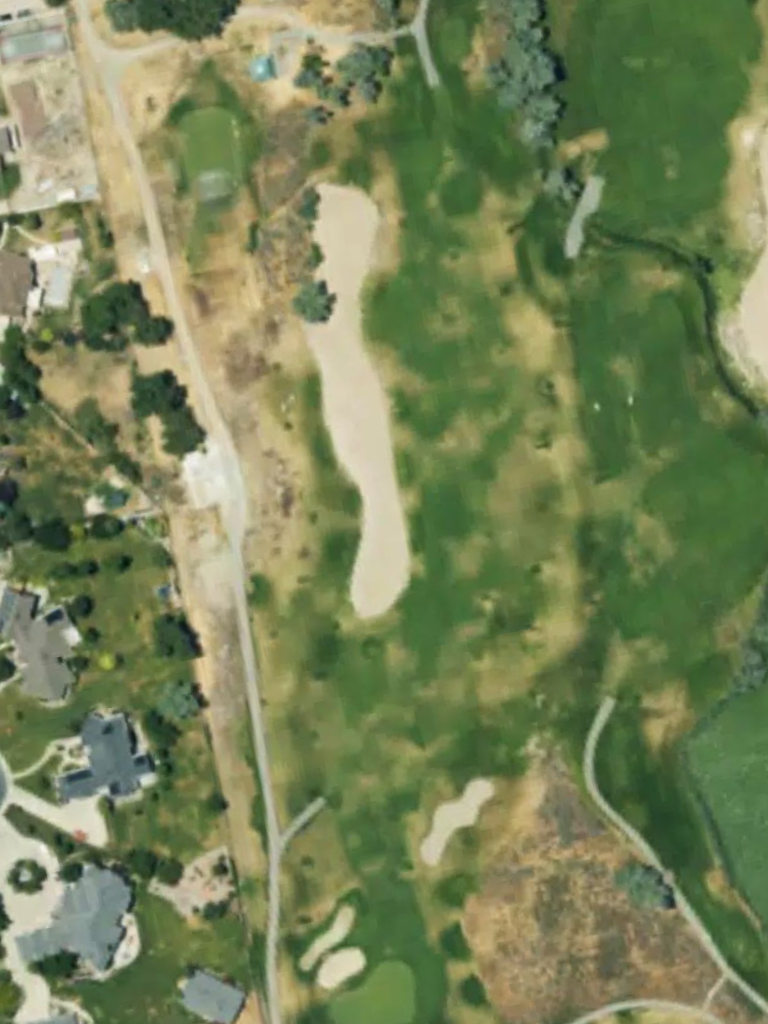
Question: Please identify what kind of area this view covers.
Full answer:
The picture captures a golf course.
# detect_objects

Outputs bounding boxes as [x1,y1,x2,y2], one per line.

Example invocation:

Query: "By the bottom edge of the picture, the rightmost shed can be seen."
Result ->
[181,972,245,1024]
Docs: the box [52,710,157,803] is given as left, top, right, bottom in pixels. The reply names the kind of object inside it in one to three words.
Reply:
house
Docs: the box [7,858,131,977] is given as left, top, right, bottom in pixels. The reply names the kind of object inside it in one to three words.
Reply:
house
